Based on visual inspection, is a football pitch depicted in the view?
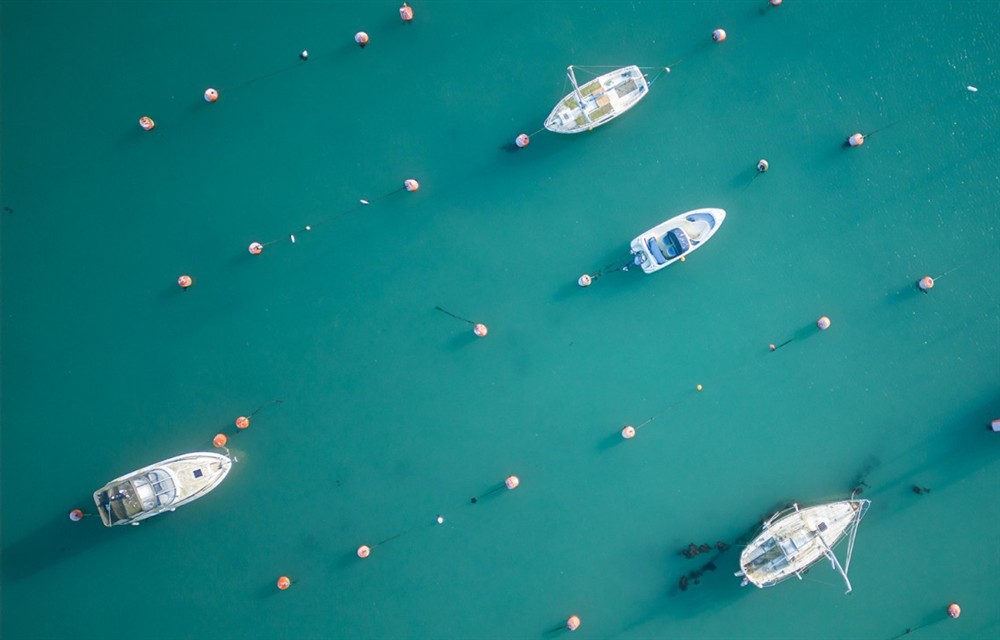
No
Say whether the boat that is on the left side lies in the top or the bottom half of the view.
bottom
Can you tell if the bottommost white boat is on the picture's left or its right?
right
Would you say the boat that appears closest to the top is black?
No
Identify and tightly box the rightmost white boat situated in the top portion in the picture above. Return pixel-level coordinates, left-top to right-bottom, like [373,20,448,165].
[619,206,727,275]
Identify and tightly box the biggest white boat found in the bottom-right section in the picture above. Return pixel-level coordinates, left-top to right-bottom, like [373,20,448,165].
[732,498,871,593]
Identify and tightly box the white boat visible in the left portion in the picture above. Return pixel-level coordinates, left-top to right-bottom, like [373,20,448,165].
[95,451,239,527]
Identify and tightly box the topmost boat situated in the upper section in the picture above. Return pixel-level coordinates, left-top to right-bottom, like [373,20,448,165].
[544,63,649,132]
